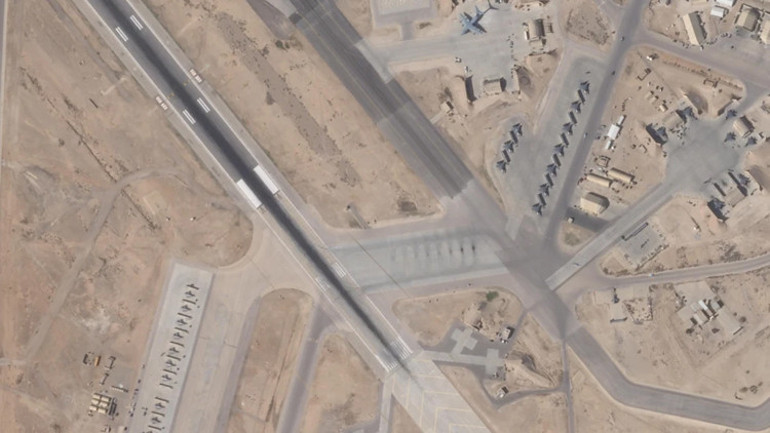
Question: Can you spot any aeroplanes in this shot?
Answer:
Yes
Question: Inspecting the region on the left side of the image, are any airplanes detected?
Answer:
No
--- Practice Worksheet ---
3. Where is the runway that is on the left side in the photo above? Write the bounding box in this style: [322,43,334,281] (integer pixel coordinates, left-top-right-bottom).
[86,0,413,372]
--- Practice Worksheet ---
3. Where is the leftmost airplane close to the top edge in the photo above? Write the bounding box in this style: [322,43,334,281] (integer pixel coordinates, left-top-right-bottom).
[461,8,487,35]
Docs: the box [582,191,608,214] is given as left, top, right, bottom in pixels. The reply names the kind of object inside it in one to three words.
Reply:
hangar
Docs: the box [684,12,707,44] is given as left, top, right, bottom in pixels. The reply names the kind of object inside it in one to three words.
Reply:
hangar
